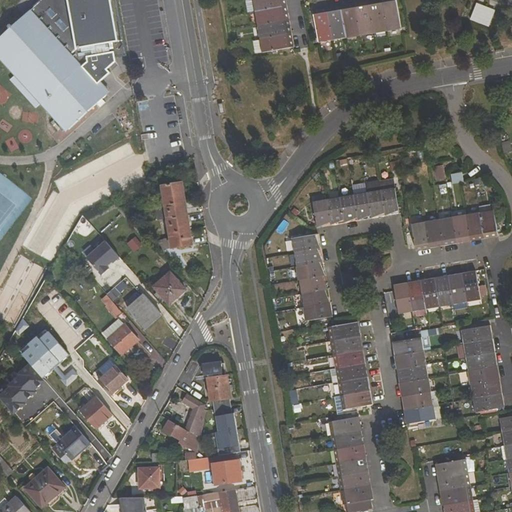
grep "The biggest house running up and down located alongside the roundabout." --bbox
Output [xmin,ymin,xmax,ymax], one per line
[160,180,194,250]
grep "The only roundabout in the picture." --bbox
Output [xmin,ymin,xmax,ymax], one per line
[208,175,268,234]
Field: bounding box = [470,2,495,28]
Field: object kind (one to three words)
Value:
building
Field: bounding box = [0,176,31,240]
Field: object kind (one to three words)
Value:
tennis court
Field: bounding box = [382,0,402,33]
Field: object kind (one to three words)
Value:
house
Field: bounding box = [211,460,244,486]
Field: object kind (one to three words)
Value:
house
